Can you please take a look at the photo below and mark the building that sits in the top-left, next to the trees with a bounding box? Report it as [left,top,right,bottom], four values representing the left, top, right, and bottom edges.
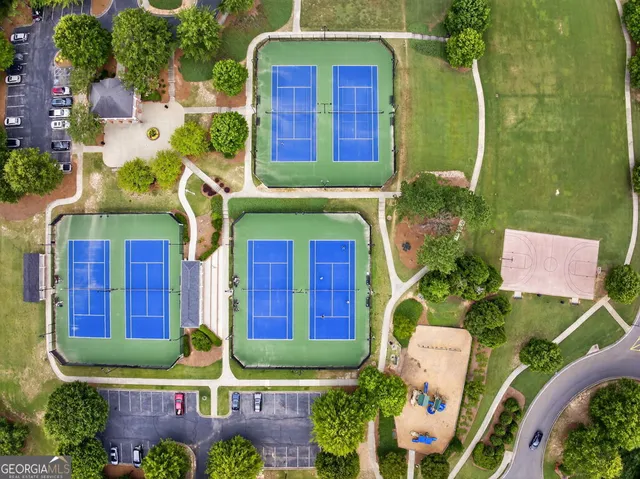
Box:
[91,74,141,123]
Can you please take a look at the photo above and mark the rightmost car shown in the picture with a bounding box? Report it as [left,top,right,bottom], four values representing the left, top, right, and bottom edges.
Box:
[530,431,546,451]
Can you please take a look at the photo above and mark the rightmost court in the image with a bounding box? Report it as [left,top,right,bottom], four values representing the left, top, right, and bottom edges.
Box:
[500,229,599,299]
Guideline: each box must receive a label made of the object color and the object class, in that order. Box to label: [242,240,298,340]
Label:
blue tennis court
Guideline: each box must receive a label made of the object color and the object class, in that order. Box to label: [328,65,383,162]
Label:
blue tennis court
